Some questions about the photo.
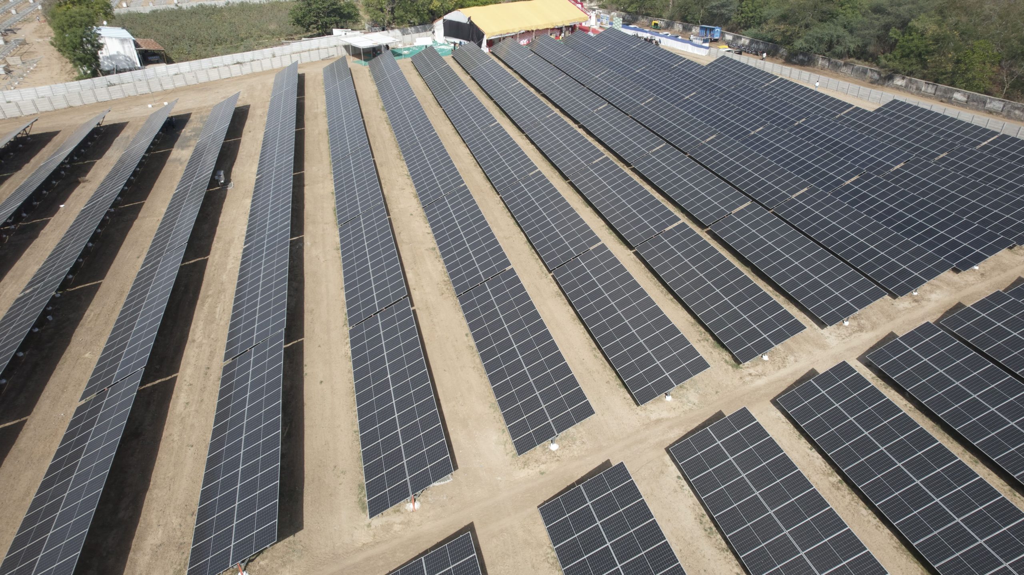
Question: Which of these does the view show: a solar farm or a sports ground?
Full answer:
The area seen from above is a solar farm.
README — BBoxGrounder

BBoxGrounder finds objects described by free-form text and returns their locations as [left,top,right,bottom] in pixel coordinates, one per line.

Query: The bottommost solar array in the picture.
[392,532,479,575]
